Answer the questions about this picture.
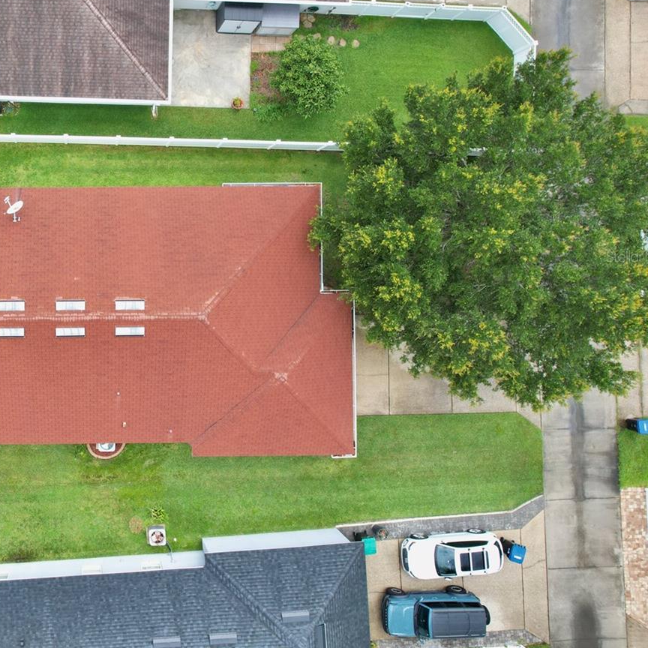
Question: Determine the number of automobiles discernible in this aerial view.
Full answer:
I count 2 automobiles.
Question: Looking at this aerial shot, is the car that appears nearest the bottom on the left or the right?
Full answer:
It is on the right.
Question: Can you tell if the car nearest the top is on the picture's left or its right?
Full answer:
The car nearest the top sits on the right side.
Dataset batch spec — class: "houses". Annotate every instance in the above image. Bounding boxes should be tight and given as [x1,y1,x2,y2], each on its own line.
[0,0,354,108]
[0,531,370,648]
[0,184,357,459]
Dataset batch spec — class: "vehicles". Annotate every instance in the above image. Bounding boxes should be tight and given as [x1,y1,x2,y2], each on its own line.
[378,587,492,642]
[398,530,505,585]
